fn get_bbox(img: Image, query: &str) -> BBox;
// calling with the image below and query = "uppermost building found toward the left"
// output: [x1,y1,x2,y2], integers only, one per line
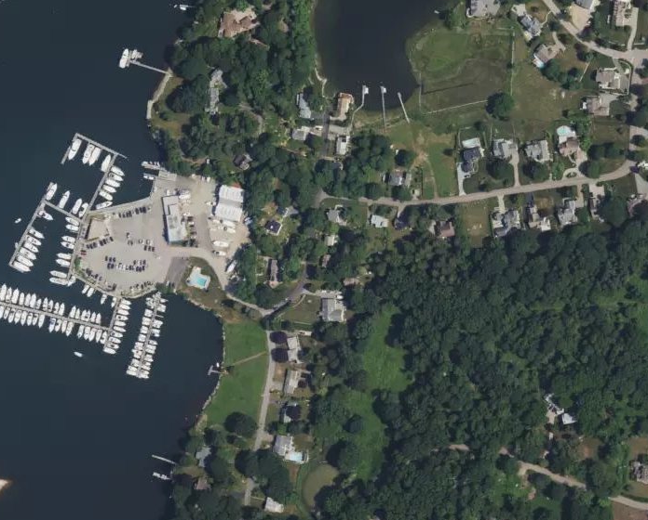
[218,12,255,37]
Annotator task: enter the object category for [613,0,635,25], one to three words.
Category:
house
